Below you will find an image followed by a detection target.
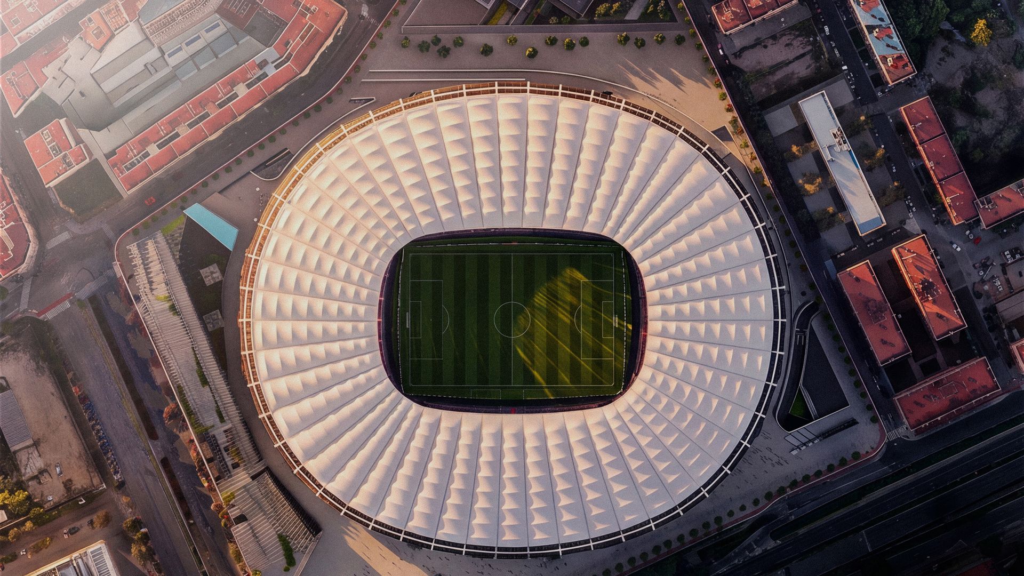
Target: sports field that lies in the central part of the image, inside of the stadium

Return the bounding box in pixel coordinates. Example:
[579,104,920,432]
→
[394,237,632,399]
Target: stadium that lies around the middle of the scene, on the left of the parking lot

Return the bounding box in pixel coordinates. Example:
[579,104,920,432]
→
[236,81,786,559]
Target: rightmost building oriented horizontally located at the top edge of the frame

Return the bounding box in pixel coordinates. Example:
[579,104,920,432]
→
[710,0,798,37]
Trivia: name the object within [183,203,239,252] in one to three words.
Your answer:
building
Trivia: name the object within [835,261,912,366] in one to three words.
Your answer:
building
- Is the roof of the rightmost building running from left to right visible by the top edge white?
No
